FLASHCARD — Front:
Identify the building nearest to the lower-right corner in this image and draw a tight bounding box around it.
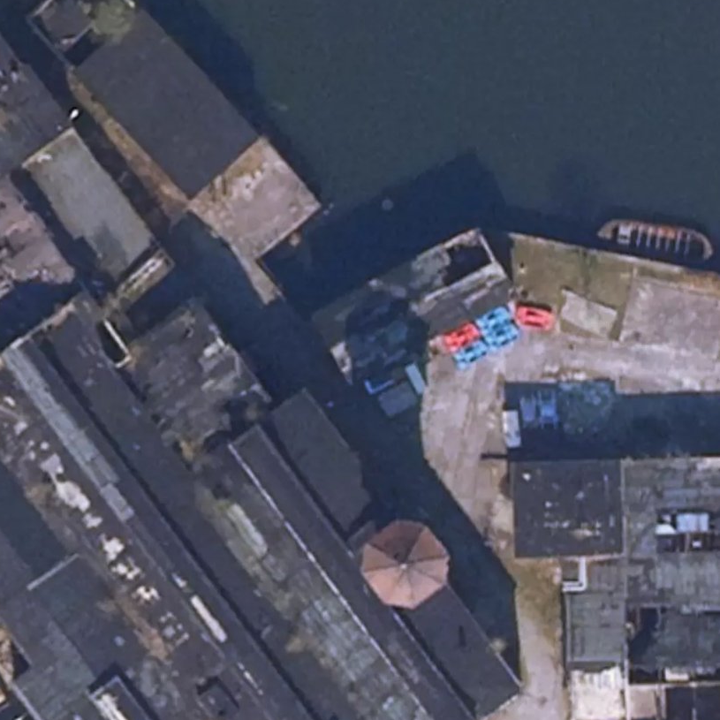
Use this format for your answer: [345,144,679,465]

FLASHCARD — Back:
[631,609,720,681]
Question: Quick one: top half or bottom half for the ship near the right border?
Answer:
top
